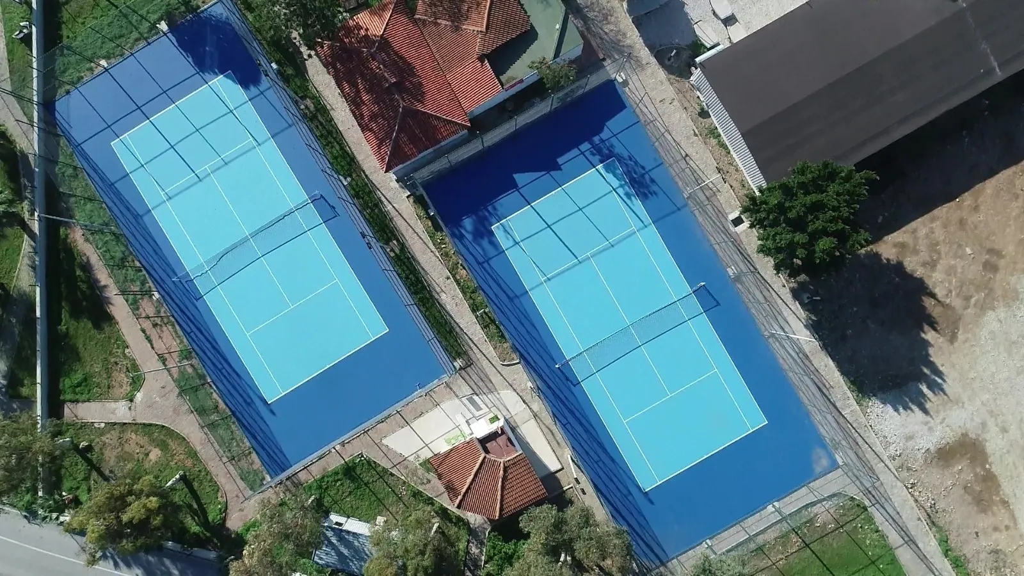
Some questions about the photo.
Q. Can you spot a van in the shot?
No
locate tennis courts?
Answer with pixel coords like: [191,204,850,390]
[54,0,454,478]
[420,82,840,569]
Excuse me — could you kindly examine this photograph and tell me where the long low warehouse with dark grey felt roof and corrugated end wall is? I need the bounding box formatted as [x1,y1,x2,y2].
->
[690,0,1024,190]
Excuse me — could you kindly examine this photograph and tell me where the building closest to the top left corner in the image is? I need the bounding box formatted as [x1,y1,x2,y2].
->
[315,0,583,177]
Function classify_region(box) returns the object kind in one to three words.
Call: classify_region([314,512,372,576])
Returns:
shed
